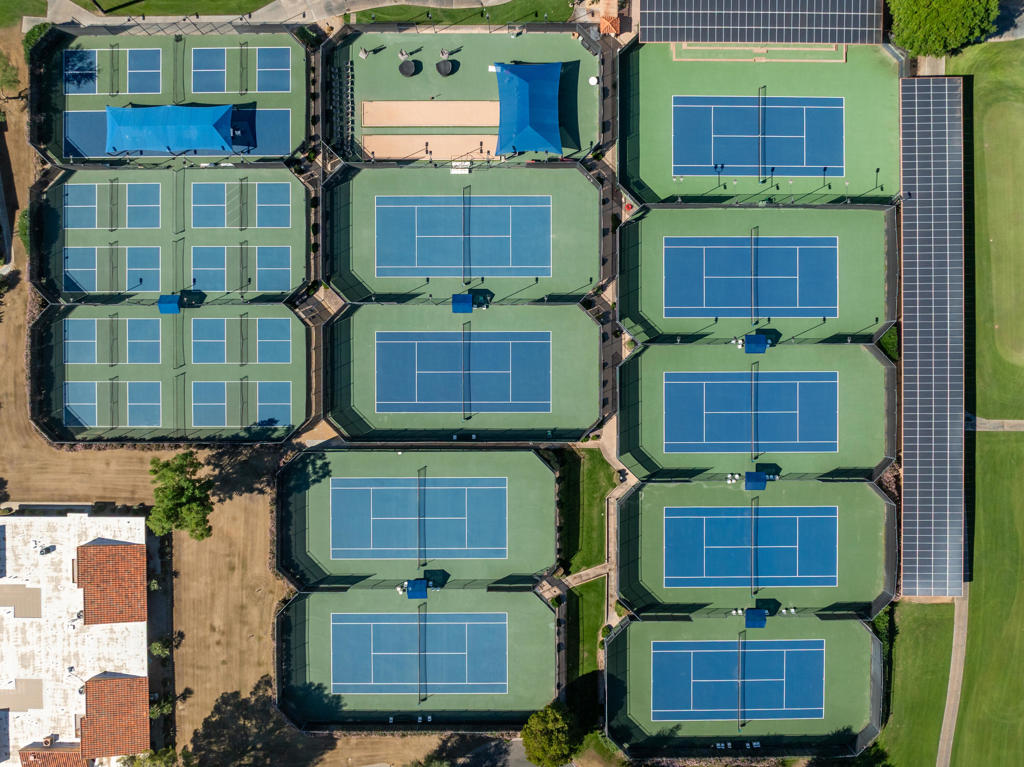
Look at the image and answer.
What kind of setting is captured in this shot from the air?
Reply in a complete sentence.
It's a sports ground.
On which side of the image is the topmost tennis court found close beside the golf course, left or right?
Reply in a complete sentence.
It is on the right.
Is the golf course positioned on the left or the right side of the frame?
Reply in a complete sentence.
The golf course appears in the right half of the scene.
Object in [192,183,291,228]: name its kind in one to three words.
sports court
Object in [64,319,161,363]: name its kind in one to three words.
sports court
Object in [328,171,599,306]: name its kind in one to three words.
tennis court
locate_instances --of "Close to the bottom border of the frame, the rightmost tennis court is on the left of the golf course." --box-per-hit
[605,612,870,747]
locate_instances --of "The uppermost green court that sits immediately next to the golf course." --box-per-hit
[618,40,899,206]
